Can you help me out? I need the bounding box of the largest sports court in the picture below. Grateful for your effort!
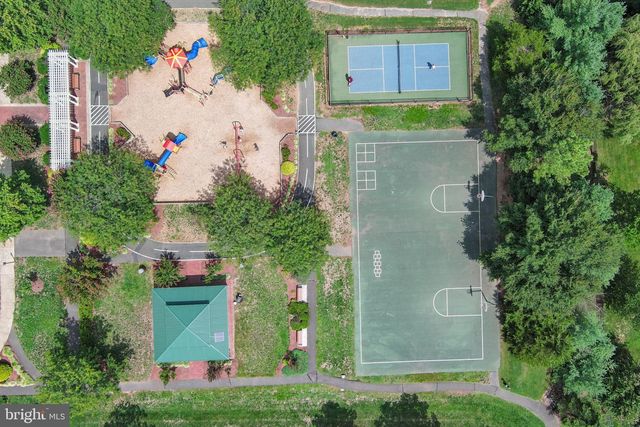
[349,126,500,376]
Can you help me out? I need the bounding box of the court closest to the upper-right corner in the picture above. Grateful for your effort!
[328,31,469,105]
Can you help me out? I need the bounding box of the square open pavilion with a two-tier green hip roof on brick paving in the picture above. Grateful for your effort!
[152,285,231,362]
